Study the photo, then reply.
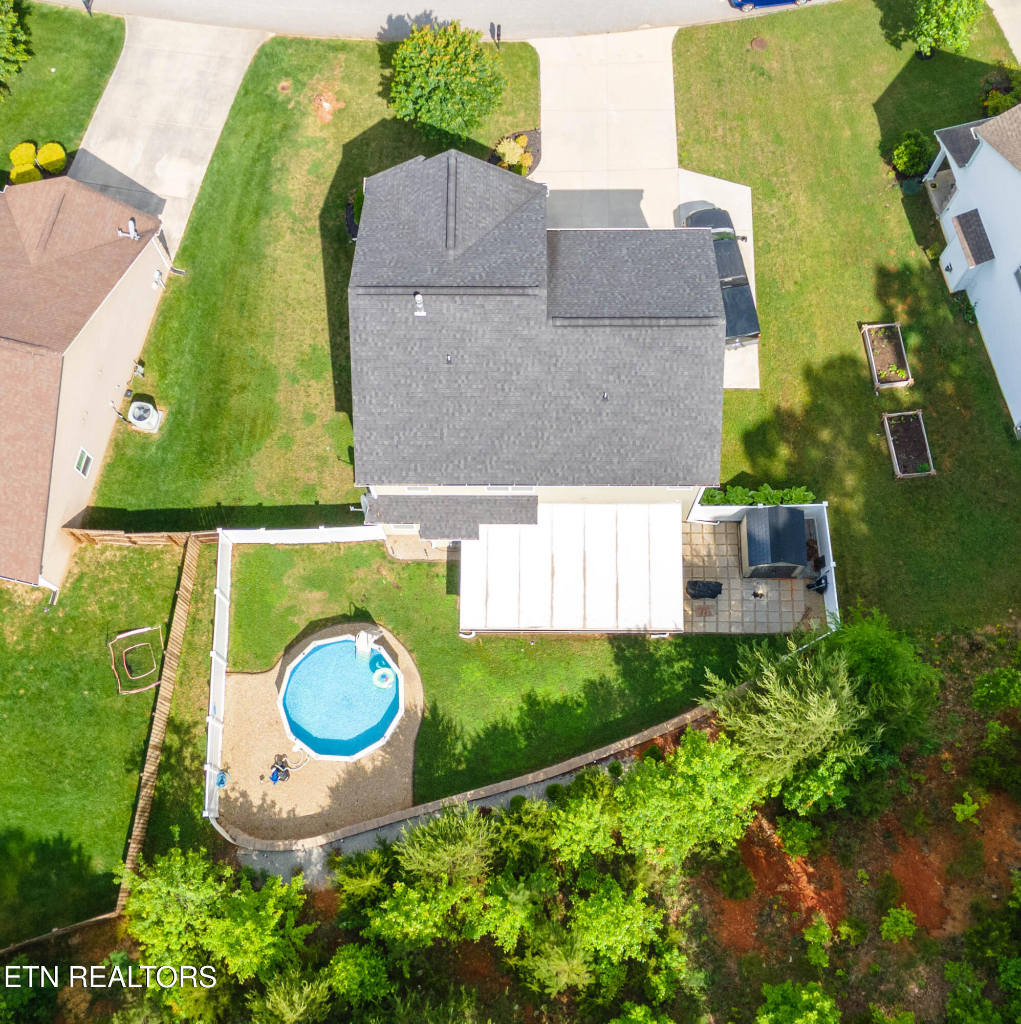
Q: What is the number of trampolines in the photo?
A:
1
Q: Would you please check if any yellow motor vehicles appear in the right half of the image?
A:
No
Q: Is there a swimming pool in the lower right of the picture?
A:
No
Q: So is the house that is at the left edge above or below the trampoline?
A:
above it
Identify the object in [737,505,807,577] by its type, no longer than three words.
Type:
shed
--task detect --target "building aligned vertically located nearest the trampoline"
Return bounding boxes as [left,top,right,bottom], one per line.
[0,176,175,598]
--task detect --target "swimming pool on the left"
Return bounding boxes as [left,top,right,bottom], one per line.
[276,635,408,768]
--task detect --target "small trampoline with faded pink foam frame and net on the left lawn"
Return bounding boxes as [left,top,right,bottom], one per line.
[109,624,165,694]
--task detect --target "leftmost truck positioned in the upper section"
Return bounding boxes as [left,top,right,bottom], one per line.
[683,205,767,352]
